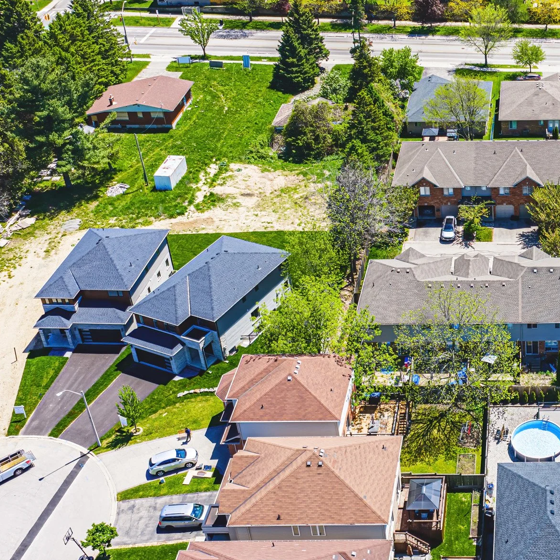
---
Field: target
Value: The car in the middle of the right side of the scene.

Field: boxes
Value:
[439,211,456,239]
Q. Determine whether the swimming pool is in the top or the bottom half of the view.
bottom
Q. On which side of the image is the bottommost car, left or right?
left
